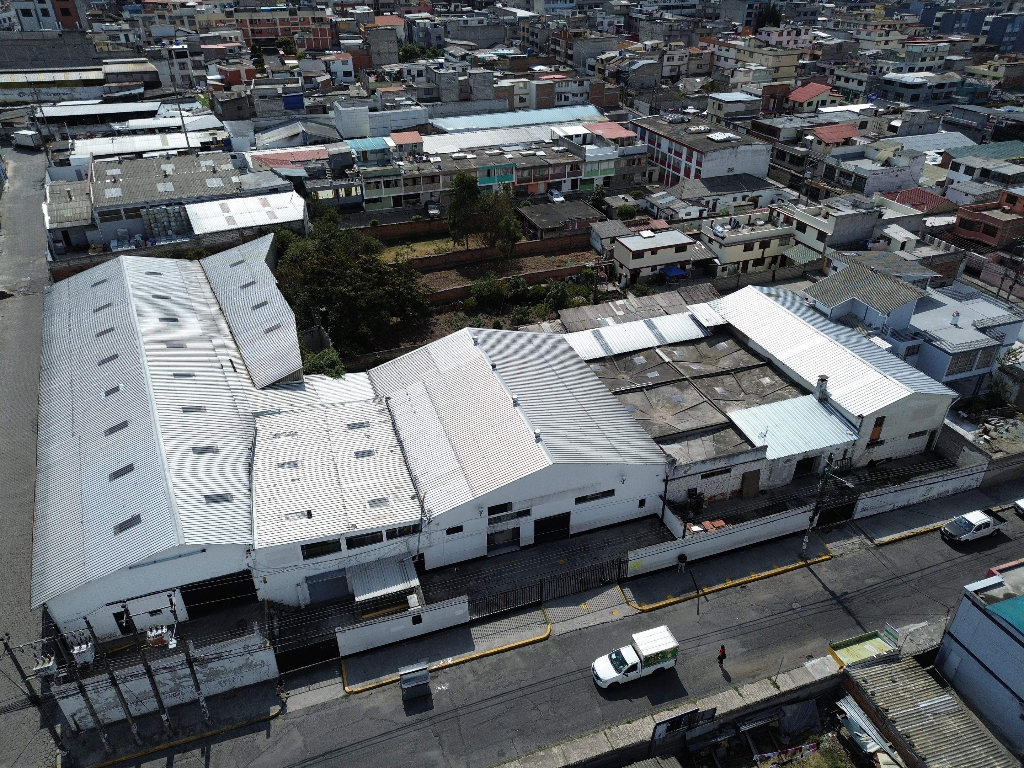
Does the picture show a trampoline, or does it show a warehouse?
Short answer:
warehouse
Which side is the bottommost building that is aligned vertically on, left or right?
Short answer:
right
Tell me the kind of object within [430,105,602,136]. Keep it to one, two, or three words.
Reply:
building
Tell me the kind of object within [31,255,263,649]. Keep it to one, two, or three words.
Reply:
warehouse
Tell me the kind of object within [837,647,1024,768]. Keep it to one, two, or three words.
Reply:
building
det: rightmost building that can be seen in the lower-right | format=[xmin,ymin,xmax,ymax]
[938,567,1024,758]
